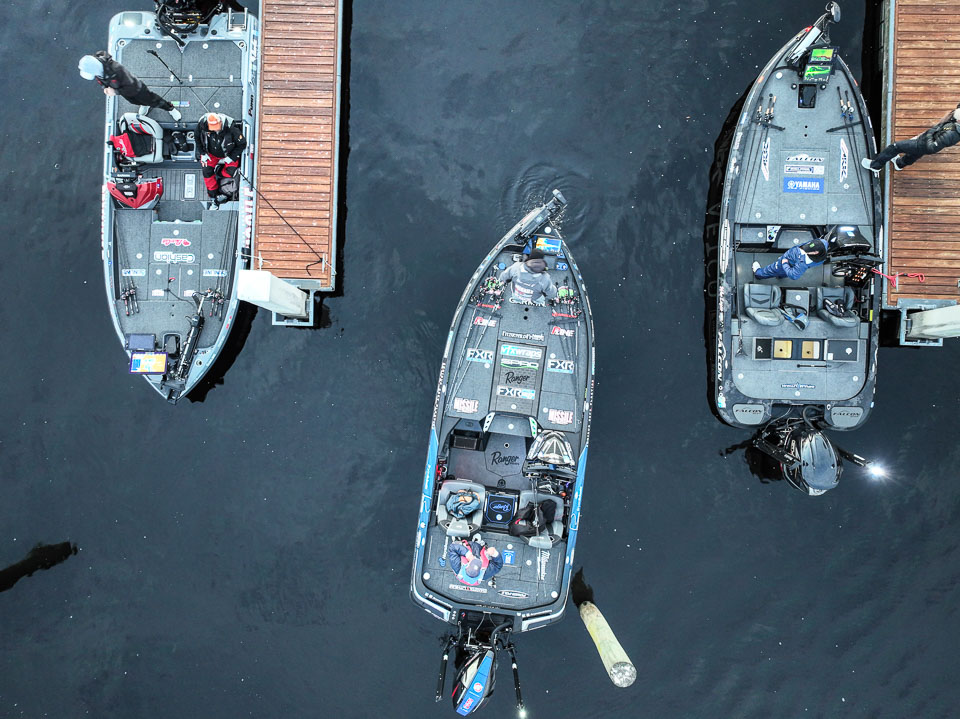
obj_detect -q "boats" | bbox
[410,188,596,716]
[712,1,883,496]
[99,0,255,407]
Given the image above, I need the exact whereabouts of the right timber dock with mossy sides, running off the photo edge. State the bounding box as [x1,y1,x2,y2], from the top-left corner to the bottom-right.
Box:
[877,0,960,346]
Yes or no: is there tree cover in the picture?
No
